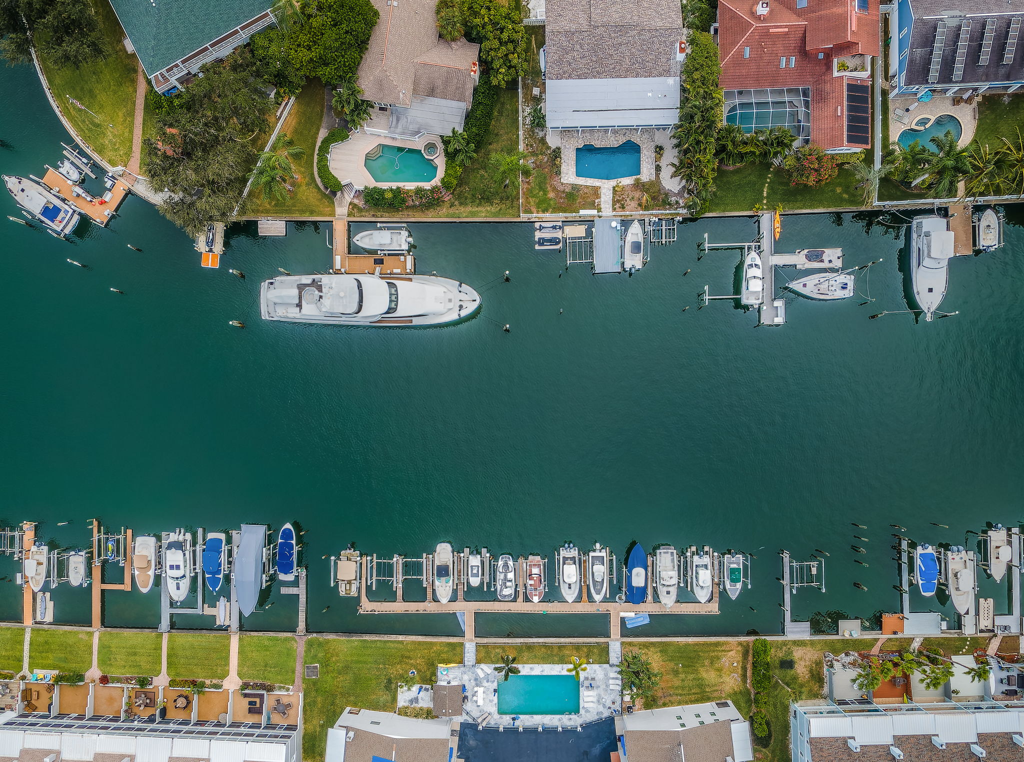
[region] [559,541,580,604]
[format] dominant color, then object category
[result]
white boat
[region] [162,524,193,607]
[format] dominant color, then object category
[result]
white boat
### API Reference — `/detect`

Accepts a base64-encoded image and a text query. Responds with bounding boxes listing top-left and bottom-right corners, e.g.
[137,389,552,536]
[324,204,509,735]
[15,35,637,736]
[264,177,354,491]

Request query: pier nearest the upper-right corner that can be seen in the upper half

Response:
[948,205,973,255]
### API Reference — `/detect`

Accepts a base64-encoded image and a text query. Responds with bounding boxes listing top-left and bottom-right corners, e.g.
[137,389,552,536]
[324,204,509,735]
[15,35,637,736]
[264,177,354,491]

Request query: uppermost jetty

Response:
[42,169,133,227]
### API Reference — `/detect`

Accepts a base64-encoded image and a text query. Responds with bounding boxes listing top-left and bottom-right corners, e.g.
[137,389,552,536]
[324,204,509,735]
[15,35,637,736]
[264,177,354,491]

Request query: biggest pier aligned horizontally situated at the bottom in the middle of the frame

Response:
[359,552,720,638]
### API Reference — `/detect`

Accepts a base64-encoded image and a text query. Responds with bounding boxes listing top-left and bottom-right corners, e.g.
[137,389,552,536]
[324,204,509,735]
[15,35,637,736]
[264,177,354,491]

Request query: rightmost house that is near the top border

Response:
[888,0,1024,103]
